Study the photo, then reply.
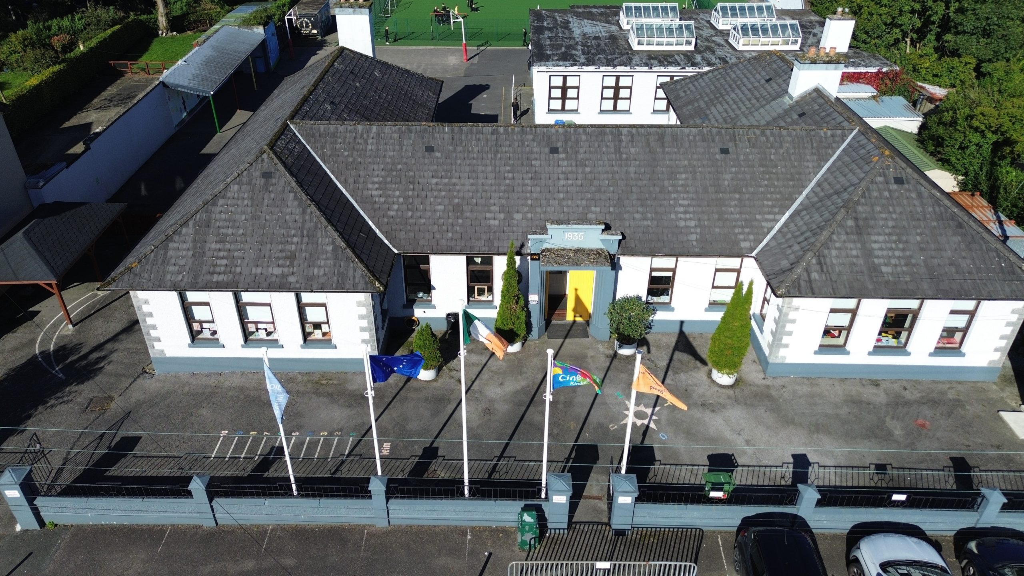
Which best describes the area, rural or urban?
urban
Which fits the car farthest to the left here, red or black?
black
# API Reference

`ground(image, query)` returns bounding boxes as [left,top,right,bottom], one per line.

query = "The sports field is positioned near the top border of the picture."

[336,0,958,51]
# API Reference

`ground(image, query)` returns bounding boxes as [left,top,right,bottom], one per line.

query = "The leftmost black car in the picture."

[735,517,835,576]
